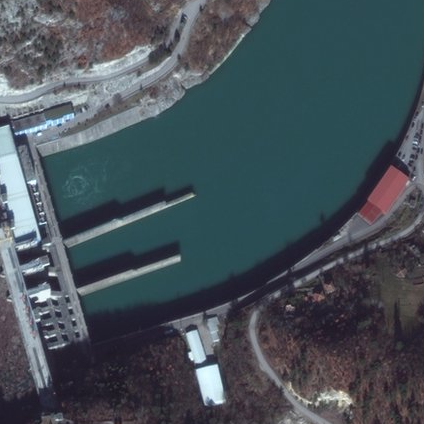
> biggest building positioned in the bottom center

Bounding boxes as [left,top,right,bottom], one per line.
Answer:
[196,364,224,407]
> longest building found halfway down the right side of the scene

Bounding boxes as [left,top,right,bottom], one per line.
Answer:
[357,166,410,227]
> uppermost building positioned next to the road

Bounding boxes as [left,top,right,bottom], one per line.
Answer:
[11,101,74,137]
